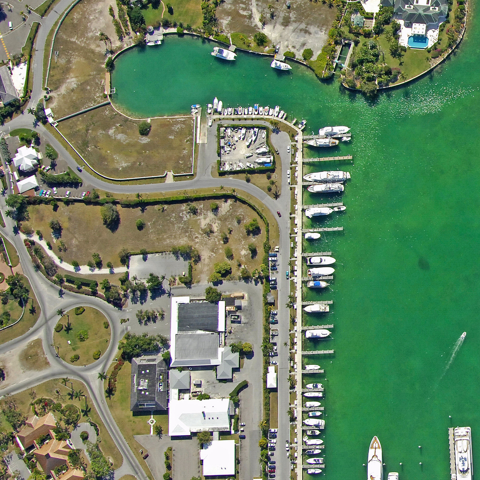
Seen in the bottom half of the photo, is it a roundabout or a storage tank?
roundabout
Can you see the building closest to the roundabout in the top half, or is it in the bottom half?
bottom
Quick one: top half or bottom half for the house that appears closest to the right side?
top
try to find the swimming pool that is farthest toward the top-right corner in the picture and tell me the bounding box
[407,36,430,51]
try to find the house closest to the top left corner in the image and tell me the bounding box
[0,61,21,106]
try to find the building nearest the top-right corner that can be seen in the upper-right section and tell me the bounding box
[393,0,448,36]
